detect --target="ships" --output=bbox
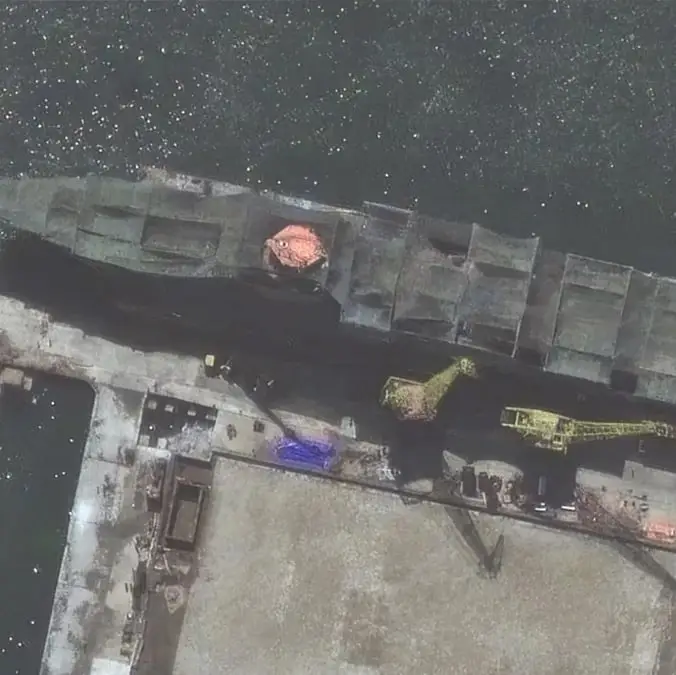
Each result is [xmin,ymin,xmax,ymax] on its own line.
[0,167,676,403]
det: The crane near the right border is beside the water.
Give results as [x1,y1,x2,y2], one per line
[500,406,676,456]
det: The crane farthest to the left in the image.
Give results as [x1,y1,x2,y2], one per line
[383,360,477,425]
